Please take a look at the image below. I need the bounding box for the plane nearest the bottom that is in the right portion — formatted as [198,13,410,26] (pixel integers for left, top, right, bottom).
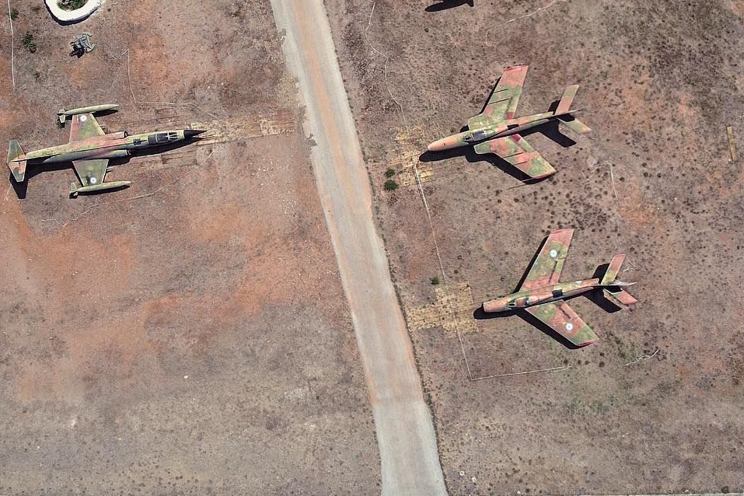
[482,224,636,344]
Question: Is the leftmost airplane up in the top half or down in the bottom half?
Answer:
top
